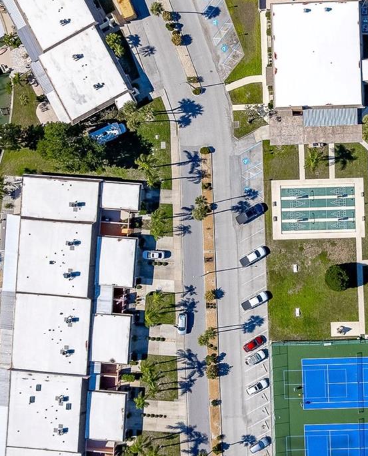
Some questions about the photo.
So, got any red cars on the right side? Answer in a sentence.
Yes, a red car is visible on the right side.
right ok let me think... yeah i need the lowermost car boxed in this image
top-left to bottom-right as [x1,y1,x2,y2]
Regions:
[248,435,272,454]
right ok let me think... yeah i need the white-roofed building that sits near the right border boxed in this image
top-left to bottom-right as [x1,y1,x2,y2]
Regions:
[271,1,368,126]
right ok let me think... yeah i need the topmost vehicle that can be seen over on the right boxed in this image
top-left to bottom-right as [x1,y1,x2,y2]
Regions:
[237,203,266,223]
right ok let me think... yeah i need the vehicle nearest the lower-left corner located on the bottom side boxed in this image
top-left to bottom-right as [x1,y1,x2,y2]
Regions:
[173,311,188,335]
